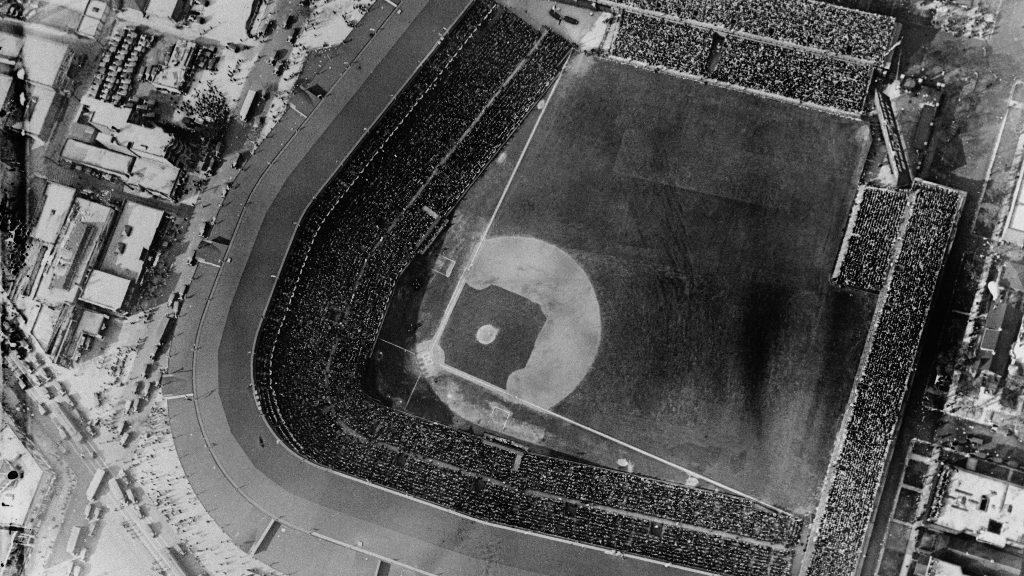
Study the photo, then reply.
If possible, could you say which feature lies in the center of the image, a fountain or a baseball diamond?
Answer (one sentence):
What appears in the center of the image is a baseball diamond.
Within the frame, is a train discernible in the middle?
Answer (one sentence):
No, I see no train in the middle.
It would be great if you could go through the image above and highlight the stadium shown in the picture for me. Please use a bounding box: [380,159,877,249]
[162,0,802,576]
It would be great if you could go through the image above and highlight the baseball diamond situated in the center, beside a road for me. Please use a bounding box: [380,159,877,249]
[362,48,877,520]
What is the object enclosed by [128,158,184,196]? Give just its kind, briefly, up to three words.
house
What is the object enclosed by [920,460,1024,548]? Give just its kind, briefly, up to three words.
building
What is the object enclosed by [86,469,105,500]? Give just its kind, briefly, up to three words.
vehicle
